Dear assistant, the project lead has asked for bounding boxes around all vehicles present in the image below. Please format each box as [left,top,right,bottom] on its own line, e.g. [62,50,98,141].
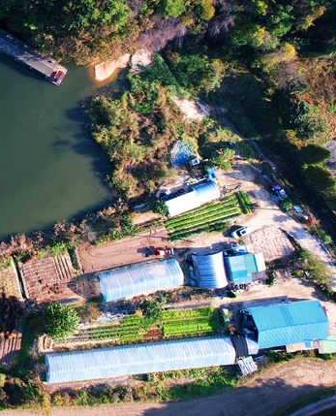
[273,183,291,203]
[151,247,171,257]
[229,225,251,238]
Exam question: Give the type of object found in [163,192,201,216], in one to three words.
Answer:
building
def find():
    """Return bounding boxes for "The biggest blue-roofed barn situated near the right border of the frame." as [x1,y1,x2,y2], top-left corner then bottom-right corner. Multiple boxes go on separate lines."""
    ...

[246,297,329,347]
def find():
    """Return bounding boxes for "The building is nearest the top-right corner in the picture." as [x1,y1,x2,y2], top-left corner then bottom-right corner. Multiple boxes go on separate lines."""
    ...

[191,181,223,206]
